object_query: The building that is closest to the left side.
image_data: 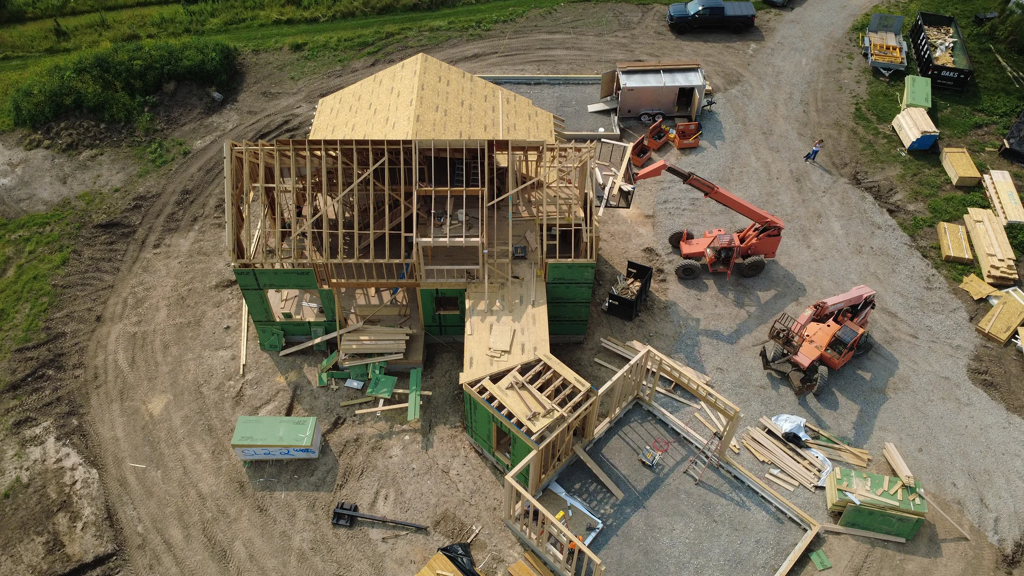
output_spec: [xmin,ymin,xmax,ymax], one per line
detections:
[223,53,597,396]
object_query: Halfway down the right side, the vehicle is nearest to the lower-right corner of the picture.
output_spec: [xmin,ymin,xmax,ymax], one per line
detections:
[756,282,891,404]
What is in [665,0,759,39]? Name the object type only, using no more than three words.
truck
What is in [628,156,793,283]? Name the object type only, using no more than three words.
work vehicle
